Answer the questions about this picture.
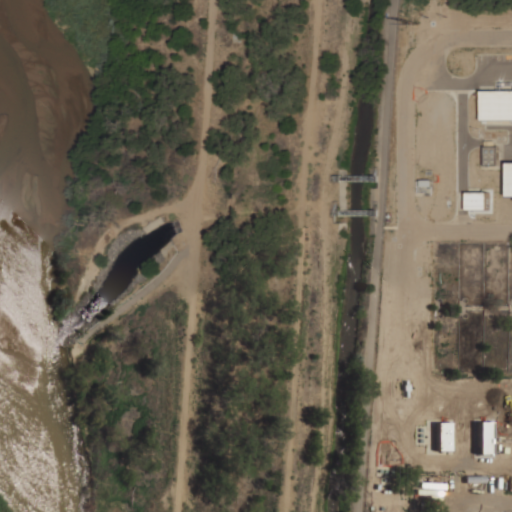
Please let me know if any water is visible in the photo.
Yes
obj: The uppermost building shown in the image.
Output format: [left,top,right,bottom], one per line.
[478,91,512,120]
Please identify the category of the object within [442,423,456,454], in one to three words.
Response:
building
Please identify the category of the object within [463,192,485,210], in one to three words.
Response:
building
